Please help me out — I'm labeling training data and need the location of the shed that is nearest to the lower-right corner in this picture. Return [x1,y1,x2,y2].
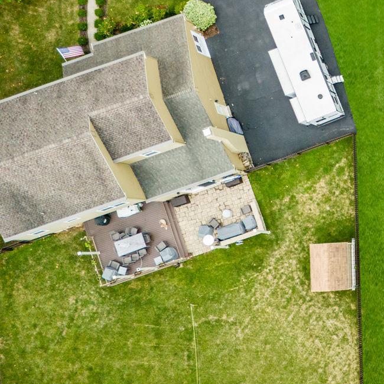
[312,242,359,291]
